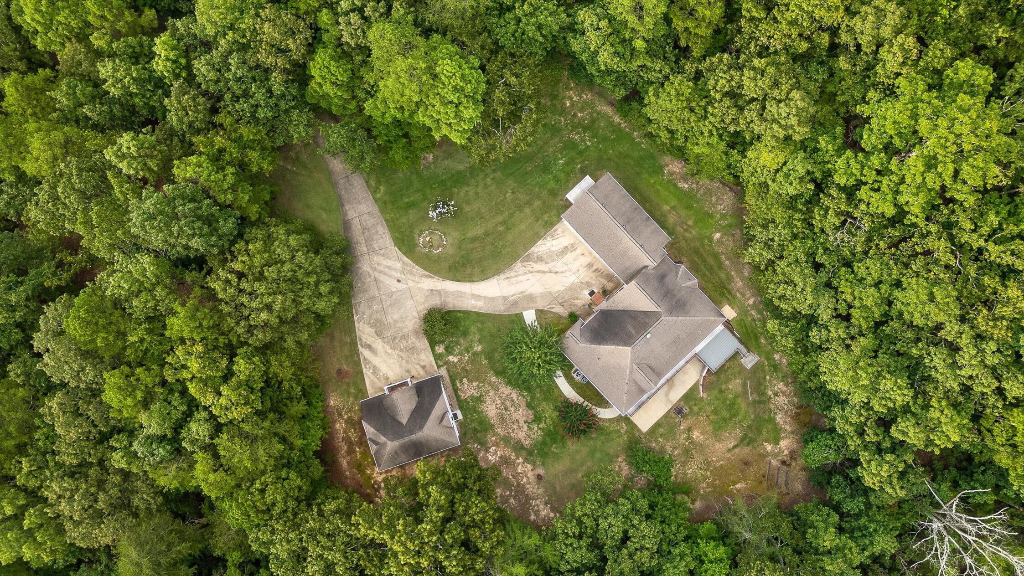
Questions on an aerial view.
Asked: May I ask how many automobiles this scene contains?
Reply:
0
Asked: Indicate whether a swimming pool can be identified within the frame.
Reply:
No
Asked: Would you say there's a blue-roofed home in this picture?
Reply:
No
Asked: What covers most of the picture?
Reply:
trees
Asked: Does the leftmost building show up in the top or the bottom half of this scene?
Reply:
bottom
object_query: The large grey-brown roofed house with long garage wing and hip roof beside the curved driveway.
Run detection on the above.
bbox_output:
[558,172,727,415]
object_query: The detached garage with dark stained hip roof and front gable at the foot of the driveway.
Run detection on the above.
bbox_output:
[360,373,461,473]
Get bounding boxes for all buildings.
[558,172,727,415]
[360,373,461,473]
